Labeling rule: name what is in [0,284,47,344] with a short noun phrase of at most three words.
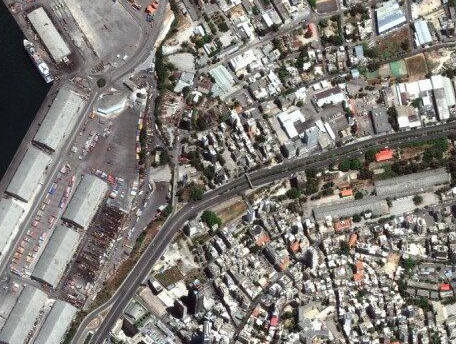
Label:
building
